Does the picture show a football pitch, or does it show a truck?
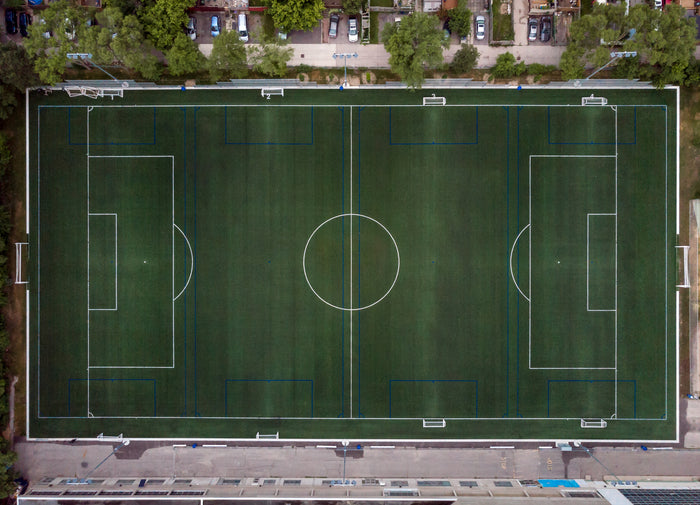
football pitch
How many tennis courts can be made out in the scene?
none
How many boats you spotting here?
0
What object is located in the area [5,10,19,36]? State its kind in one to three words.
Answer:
car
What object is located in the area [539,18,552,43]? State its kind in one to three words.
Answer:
vehicle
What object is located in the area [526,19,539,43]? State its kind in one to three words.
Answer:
vehicle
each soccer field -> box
[28,90,678,439]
